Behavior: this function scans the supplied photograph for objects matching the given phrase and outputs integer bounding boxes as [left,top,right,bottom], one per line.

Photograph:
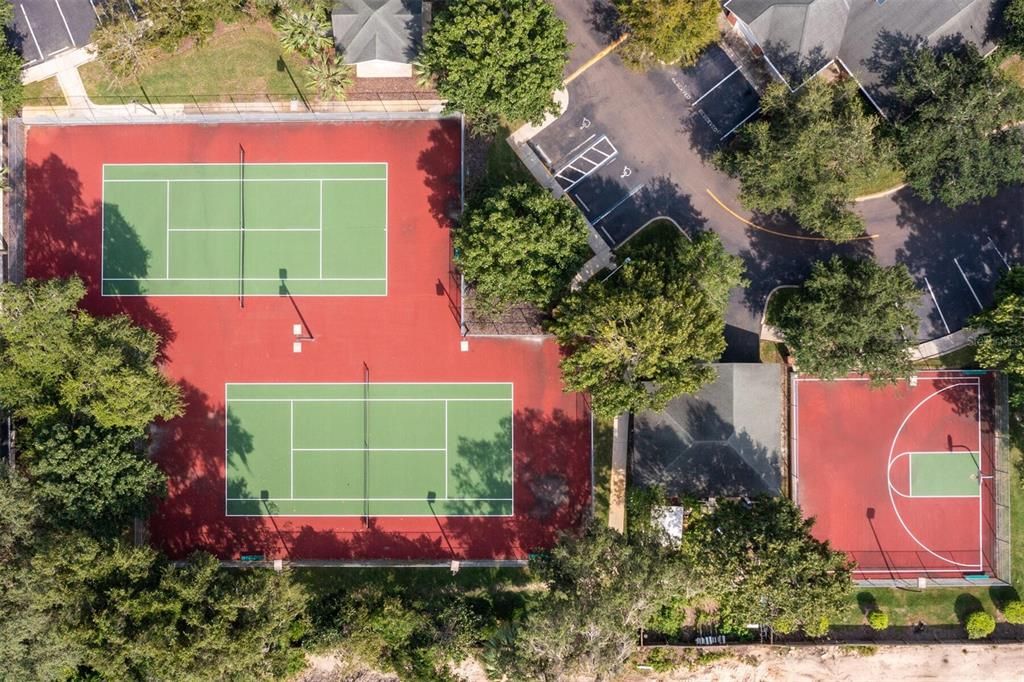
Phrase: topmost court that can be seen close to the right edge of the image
[793,371,996,578]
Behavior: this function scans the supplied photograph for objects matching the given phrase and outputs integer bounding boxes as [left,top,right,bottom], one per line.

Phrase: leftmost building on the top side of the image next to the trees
[331,0,422,76]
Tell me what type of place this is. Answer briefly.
sports ground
